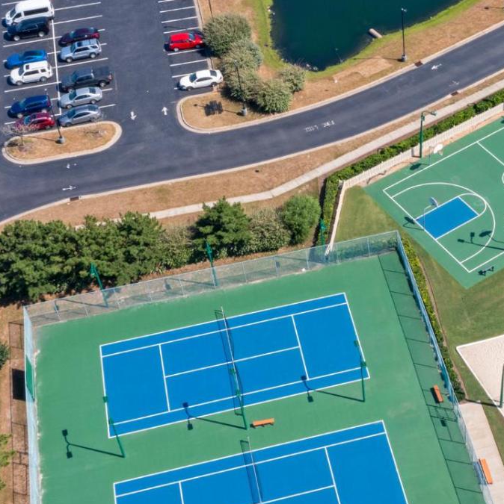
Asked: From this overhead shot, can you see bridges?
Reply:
No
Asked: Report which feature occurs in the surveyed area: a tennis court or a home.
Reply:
tennis court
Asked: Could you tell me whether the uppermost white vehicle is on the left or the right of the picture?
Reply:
left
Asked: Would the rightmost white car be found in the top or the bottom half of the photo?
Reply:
top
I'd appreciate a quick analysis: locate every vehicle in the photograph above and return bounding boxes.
[57,37,102,62]
[56,25,99,45]
[57,104,102,127]
[14,109,56,132]
[6,47,48,67]
[178,70,222,91]
[58,87,103,108]
[59,66,111,92]
[8,59,54,86]
[7,17,49,40]
[10,95,52,118]
[5,0,56,25]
